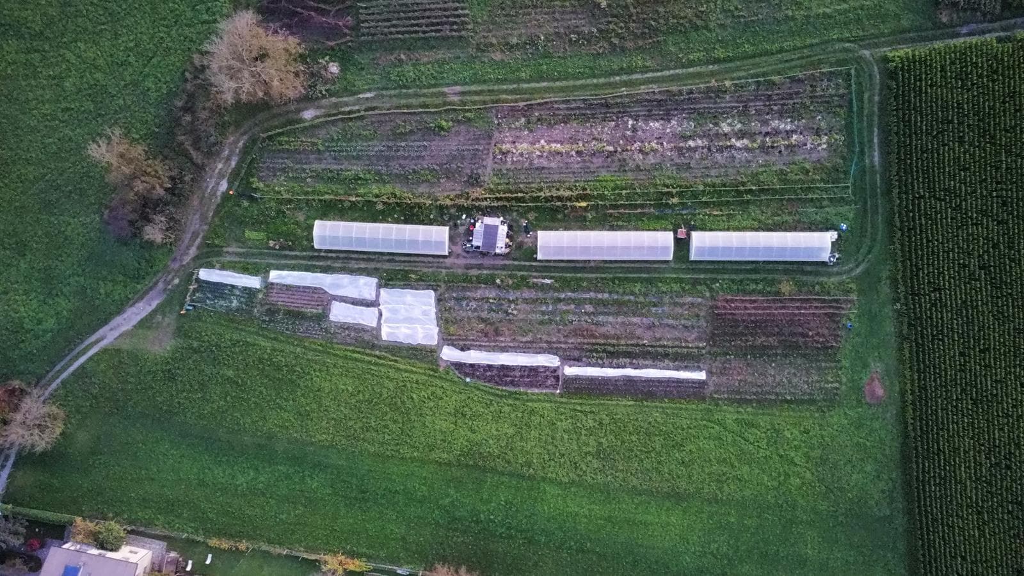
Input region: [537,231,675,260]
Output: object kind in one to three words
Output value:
greenhouse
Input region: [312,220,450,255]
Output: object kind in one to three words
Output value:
greenhouse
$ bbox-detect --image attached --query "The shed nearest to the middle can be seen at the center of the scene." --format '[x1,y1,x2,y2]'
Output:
[473,217,507,252]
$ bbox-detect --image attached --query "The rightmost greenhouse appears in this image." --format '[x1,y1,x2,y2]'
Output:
[689,231,836,261]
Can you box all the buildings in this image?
[473,217,507,252]
[537,231,675,260]
[42,525,150,576]
[312,220,450,255]
[689,231,836,261]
